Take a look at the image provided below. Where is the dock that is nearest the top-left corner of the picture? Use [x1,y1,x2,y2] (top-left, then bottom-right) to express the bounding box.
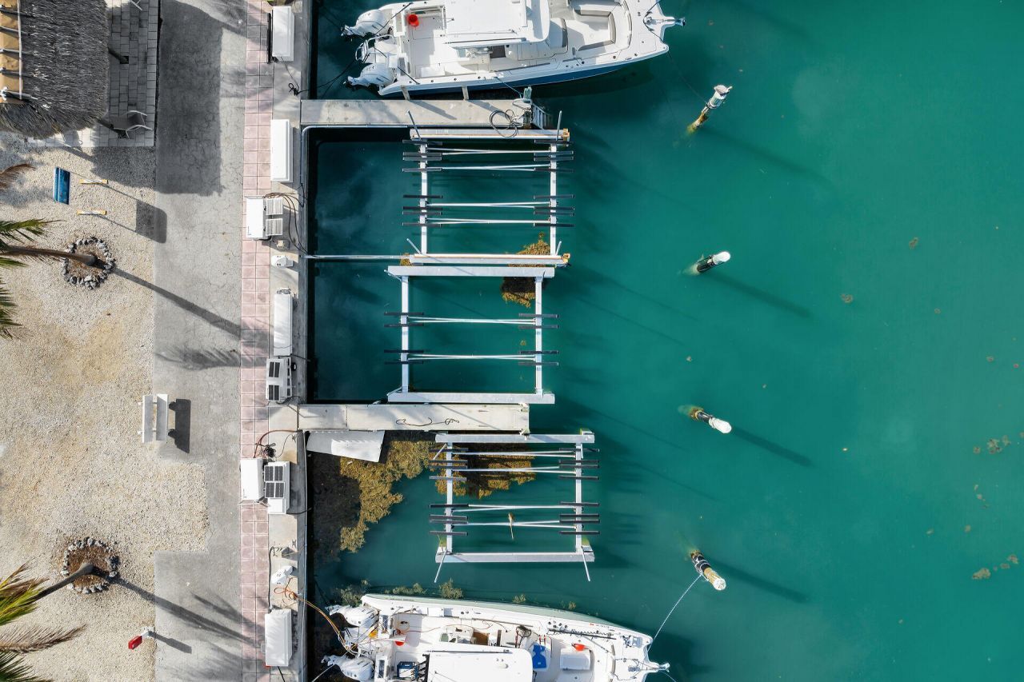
[300,99,527,137]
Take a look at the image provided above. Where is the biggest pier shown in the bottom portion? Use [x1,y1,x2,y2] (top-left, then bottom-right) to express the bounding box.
[298,402,528,432]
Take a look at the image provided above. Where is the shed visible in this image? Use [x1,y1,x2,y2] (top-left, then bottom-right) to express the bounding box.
[0,0,130,149]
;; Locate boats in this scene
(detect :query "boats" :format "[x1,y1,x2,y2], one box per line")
[334,0,691,99]
[317,587,675,682]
